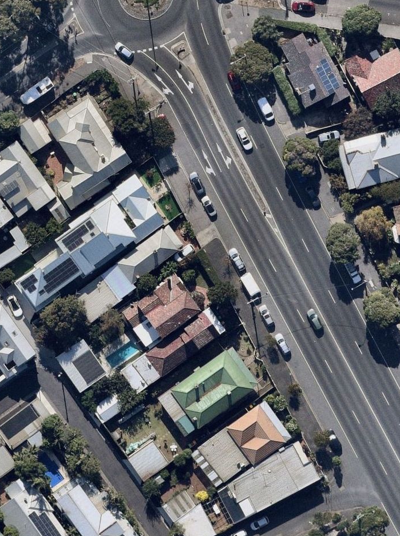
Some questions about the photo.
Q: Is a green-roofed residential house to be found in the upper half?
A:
No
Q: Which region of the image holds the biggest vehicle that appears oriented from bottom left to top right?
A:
top left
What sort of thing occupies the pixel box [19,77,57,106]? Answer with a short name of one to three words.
vehicle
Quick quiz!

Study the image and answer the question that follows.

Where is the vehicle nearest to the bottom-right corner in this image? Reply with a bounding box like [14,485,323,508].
[327,428,341,450]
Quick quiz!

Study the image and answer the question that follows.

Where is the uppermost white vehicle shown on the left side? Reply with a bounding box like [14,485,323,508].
[114,43,134,61]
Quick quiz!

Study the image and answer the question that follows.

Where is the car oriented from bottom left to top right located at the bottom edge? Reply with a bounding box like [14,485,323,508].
[249,515,269,532]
